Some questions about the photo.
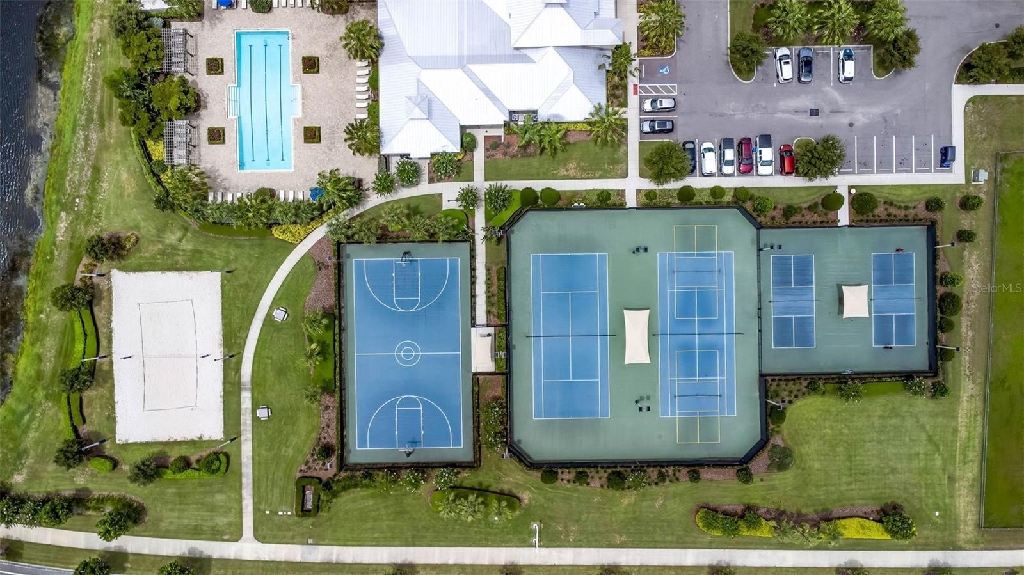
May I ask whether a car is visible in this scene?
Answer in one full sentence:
Yes, a car is visible in the scene.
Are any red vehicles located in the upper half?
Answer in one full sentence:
Yes, a red vehicle is visible in the upper half.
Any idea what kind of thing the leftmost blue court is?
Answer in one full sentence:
I'd identify the leftmost blue court as a basketball court.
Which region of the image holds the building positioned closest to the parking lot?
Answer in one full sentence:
Look in the top portion of the view to spot the building positioned closest to the parking lot.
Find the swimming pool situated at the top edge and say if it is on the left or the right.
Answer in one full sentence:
It is on the left.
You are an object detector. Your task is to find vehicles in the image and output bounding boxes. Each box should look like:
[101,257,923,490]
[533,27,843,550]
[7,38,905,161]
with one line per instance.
[682,141,698,175]
[774,48,792,83]
[796,48,814,83]
[699,143,716,176]
[837,49,855,83]
[778,144,795,176]
[736,137,754,174]
[642,96,676,112]
[640,118,674,134]
[939,145,956,167]
[755,133,774,175]
[719,137,736,175]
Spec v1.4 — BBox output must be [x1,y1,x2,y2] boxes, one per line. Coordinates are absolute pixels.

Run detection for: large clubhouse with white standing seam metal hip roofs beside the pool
[378,0,622,156]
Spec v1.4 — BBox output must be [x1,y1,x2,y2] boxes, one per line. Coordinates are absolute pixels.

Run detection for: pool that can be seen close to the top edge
[221,28,306,173]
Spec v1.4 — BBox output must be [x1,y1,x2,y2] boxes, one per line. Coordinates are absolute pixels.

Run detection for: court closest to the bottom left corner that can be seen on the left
[110,269,224,443]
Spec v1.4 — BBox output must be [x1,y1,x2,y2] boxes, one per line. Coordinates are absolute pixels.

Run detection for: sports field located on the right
[984,151,1024,529]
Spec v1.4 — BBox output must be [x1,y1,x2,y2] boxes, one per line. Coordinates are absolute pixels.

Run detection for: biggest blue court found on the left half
[353,257,462,450]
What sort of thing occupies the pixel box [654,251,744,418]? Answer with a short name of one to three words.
tennis court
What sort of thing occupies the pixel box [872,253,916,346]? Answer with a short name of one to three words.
sports court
